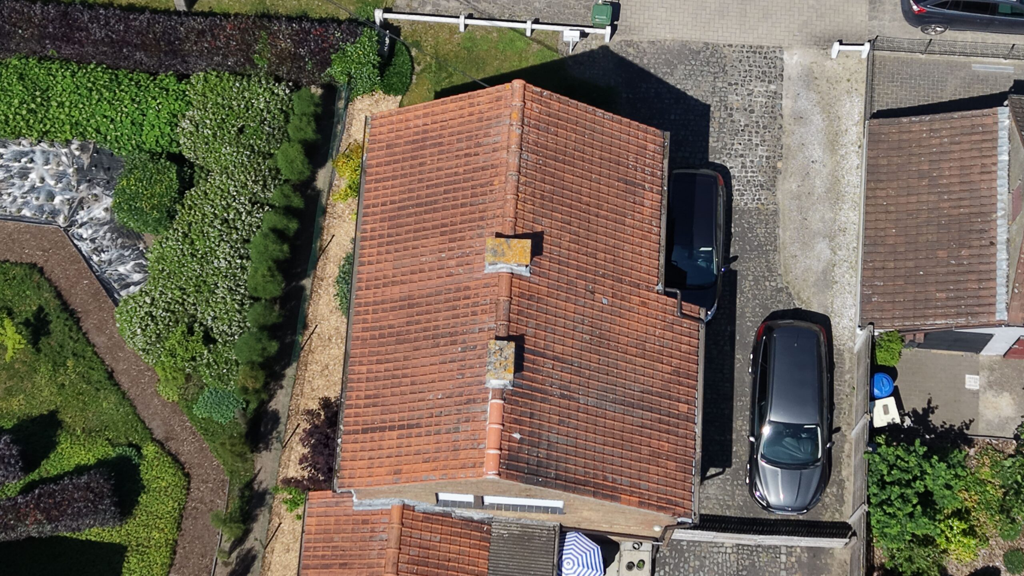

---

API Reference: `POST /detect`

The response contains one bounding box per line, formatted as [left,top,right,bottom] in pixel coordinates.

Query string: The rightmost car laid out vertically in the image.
[746,319,835,515]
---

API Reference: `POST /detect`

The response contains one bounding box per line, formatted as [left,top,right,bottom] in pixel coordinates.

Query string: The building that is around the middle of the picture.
[331,83,709,556]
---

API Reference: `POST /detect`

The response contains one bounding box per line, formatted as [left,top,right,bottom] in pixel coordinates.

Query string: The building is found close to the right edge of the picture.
[853,91,1024,356]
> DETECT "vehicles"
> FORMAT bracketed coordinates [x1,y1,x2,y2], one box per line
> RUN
[746,319,835,515]
[900,0,1024,35]
[664,168,730,326]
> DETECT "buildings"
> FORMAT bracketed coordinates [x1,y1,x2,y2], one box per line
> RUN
[331,83,709,556]
[853,91,1024,356]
